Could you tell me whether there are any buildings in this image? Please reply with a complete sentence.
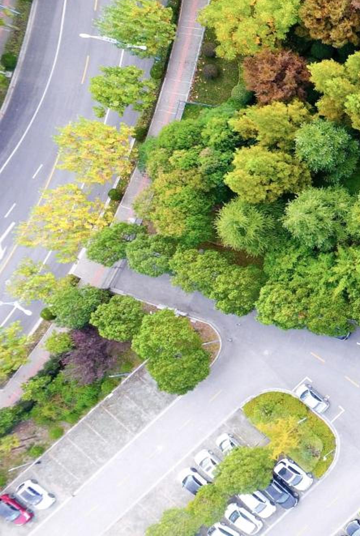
No, no building is visible in the scene.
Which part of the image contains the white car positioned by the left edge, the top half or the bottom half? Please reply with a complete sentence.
Seen from above, the white car positioned by the left edge lies in the bottom half of the view.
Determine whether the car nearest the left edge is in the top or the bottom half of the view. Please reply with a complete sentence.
It is in the bottom half that the car nearest the left edge appears.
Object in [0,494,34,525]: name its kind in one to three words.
car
